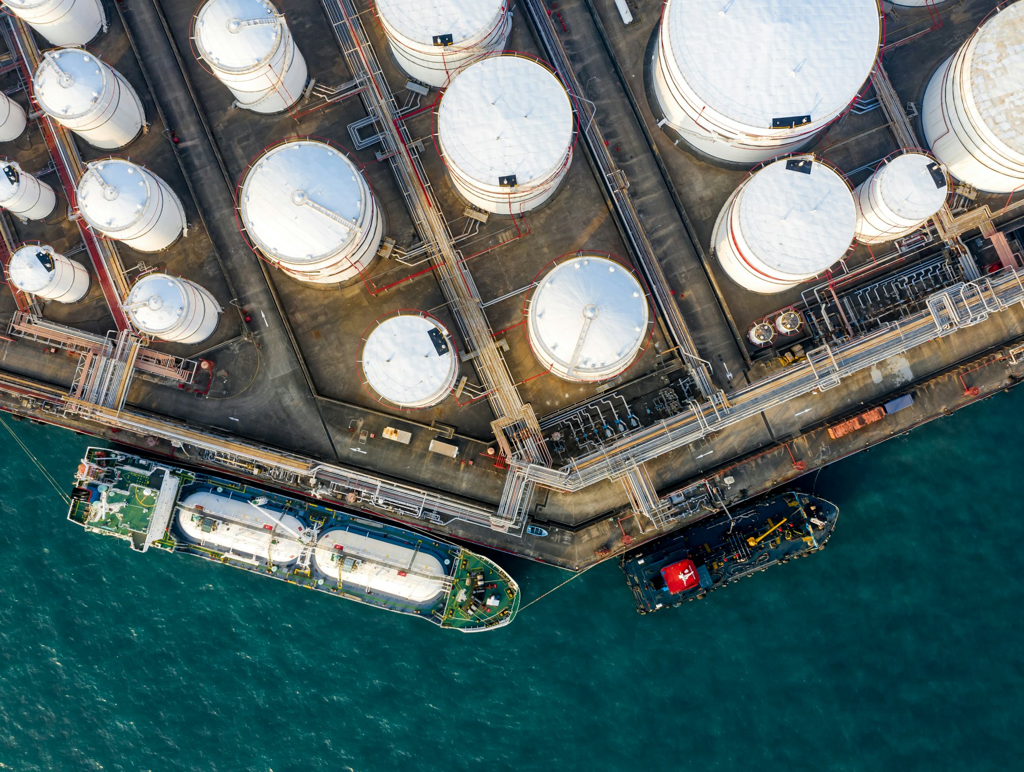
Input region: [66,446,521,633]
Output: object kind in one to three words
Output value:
ship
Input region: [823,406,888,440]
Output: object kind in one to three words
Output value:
shipping container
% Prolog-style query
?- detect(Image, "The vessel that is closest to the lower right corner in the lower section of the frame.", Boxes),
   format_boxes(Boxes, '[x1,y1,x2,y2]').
[620,492,838,612]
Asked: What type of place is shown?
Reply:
industrial area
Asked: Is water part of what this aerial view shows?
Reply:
Yes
